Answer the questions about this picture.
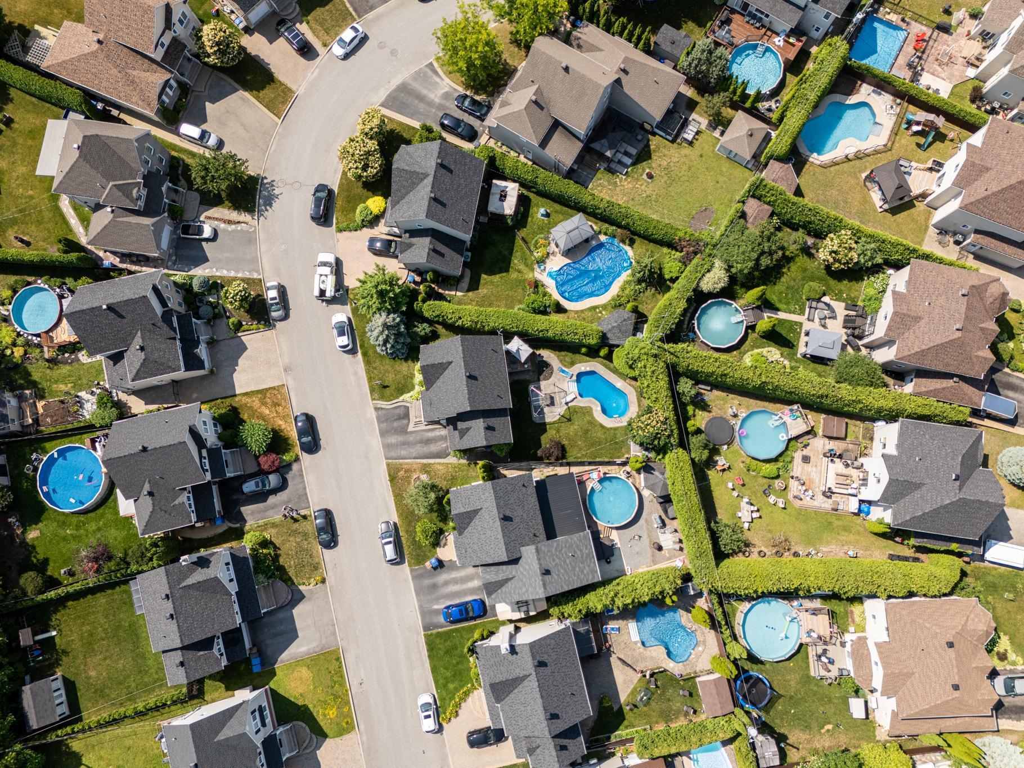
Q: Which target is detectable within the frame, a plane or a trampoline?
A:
trampoline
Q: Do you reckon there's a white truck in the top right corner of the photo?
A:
No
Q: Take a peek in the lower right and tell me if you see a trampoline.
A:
Yes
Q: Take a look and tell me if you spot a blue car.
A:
Yes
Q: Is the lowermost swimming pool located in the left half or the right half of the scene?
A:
right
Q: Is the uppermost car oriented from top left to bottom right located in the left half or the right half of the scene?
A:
left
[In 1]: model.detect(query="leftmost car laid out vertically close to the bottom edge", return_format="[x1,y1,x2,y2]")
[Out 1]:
[418,693,438,732]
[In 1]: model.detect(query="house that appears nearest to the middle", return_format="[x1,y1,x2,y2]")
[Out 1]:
[413,334,513,452]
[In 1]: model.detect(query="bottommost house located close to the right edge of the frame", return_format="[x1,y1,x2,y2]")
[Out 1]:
[841,587,1000,737]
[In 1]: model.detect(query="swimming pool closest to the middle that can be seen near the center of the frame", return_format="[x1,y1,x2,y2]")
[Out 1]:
[573,367,632,425]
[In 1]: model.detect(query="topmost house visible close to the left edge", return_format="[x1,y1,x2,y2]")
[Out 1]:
[40,0,218,119]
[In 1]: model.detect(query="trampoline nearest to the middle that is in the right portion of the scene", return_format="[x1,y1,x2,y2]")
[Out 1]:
[702,416,734,446]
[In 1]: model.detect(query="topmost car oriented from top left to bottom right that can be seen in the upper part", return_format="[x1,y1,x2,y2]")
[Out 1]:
[275,16,310,56]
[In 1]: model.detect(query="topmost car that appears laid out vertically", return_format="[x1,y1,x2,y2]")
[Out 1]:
[311,184,331,225]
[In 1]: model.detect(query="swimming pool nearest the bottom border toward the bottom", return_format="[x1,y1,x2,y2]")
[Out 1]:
[689,738,734,768]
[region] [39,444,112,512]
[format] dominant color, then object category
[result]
blue swimming pool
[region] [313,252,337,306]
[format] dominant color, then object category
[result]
white truck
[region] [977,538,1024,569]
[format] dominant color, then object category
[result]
white trailer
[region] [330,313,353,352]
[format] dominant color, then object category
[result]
white car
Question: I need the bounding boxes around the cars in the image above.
[993,674,1024,696]
[177,122,220,149]
[294,412,317,453]
[265,280,288,322]
[365,237,400,256]
[443,598,484,621]
[469,727,507,748]
[178,221,215,240]
[312,508,337,549]
[275,16,310,56]
[418,693,438,732]
[330,313,353,352]
[377,521,400,563]
[452,93,492,122]
[332,23,367,60]
[241,472,283,496]
[311,184,331,225]
[437,113,479,142]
